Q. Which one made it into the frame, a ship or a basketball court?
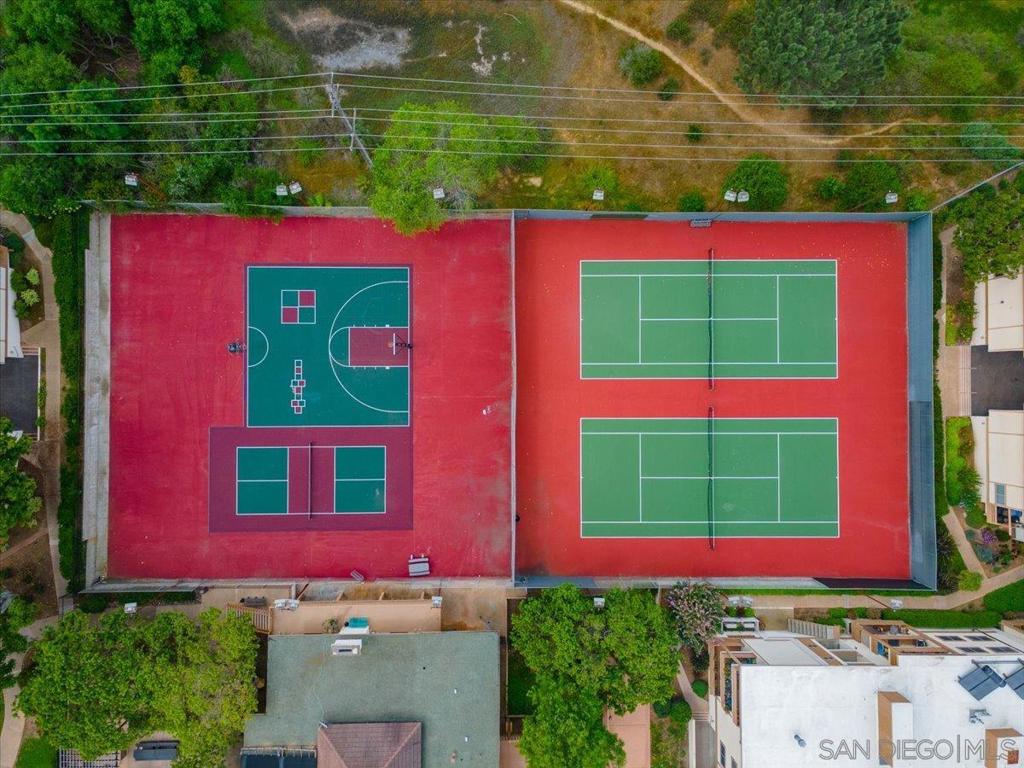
basketball court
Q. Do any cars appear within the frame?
No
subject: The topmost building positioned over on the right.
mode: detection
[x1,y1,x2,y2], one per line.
[966,274,1024,351]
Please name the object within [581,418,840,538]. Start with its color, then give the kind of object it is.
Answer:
green tennis court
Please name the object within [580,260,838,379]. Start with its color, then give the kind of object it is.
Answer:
green tennis court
